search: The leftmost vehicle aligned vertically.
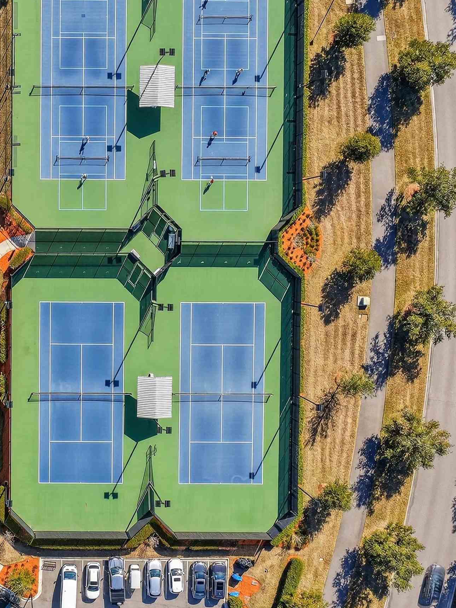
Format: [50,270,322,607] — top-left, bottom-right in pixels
[58,559,78,608]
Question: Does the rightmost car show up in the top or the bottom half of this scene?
bottom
